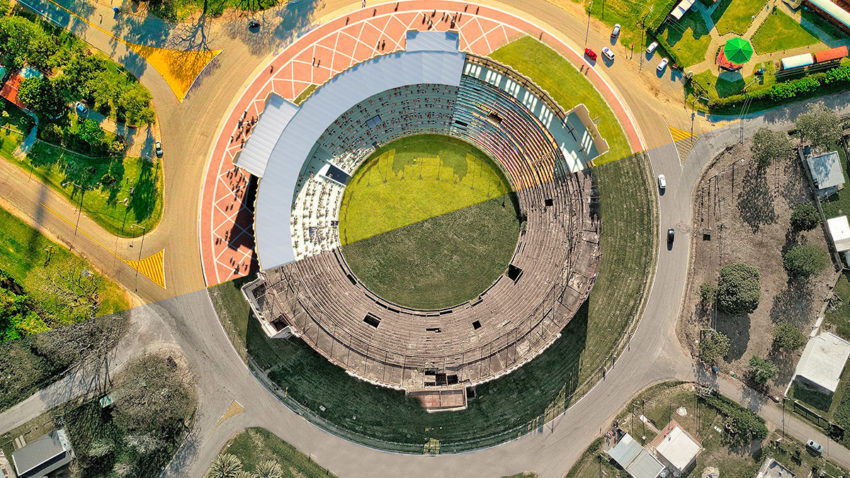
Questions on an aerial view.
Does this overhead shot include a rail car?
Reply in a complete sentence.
Yes, a rail car is visible in the scene.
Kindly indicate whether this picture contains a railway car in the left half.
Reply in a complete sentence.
No, no railway car is visible in the left half.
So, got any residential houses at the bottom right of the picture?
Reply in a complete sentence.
Yes, at the bottom right of the picture there is a residential house.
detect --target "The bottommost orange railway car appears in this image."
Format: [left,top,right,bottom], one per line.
[809,46,849,66]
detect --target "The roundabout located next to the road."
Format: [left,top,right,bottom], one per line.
[154,0,700,478]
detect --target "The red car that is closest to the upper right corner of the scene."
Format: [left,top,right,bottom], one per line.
[583,48,598,61]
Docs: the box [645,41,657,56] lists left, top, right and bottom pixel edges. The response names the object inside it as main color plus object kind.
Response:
white vehicle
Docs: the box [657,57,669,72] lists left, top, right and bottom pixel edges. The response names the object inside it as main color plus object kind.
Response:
white vehicle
